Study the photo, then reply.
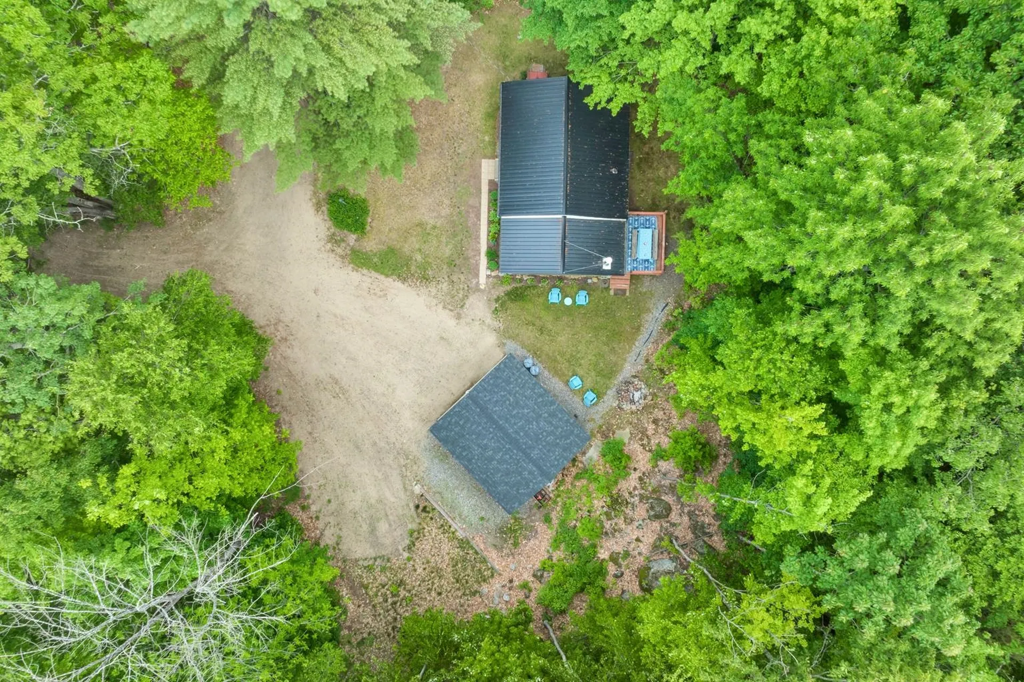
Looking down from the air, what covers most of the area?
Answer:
trees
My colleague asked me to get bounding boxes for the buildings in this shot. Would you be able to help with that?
[495,75,630,281]
[430,354,589,513]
